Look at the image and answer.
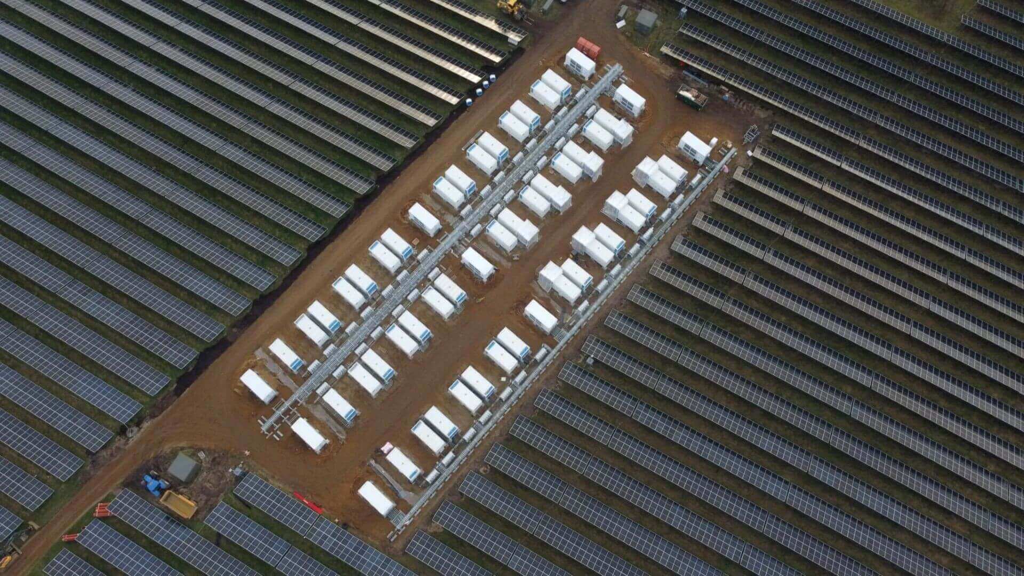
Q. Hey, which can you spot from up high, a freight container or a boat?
freight container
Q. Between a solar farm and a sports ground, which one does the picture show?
solar farm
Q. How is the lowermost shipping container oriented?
on a diagonal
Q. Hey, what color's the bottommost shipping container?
white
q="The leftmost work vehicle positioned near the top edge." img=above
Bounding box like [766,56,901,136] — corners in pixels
[495,0,529,22]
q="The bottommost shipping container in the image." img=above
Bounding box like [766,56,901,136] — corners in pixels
[358,481,397,518]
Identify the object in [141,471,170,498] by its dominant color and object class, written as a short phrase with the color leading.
blue work vehicle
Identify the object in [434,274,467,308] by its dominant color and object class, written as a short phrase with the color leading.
white shipping container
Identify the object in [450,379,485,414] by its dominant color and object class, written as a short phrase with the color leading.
white shipping container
